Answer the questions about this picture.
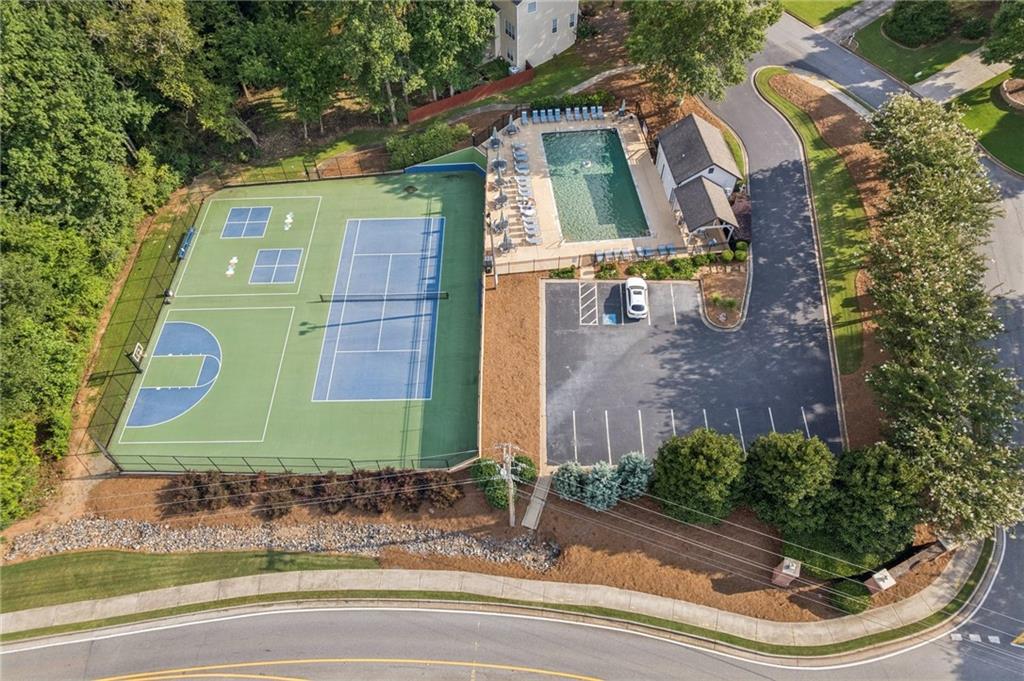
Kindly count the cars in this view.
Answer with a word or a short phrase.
one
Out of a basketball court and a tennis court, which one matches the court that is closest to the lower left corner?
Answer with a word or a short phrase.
basketball court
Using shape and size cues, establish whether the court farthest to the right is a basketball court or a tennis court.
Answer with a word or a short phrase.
tennis court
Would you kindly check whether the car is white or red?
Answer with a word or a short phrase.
white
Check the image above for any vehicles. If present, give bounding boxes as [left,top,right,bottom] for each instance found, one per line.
[626,279,650,320]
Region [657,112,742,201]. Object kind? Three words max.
building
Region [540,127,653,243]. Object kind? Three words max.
swimming pool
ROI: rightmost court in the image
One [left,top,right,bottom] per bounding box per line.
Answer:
[311,217,446,401]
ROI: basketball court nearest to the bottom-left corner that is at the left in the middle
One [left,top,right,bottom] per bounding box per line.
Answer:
[120,307,294,442]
